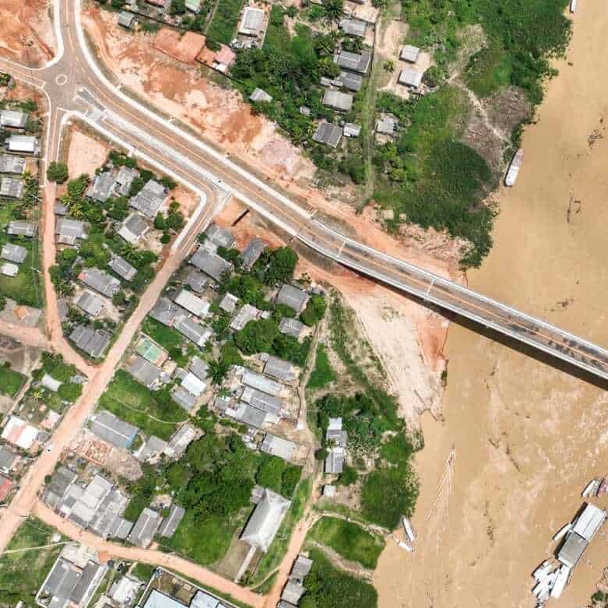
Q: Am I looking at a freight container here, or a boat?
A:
boat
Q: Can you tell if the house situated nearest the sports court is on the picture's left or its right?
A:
left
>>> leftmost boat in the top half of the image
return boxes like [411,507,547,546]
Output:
[504,149,520,187]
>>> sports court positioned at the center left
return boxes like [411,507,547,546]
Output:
[134,338,167,368]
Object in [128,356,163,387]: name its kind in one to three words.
house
